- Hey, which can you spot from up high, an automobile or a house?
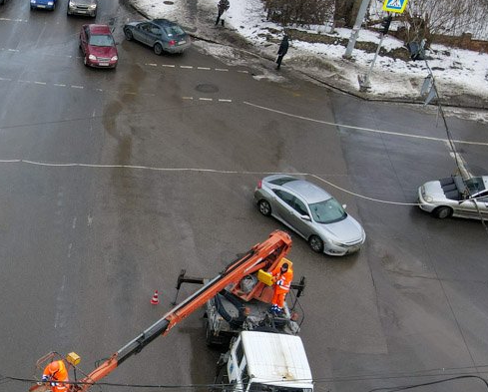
automobile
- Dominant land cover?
paved ground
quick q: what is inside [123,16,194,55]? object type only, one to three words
car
